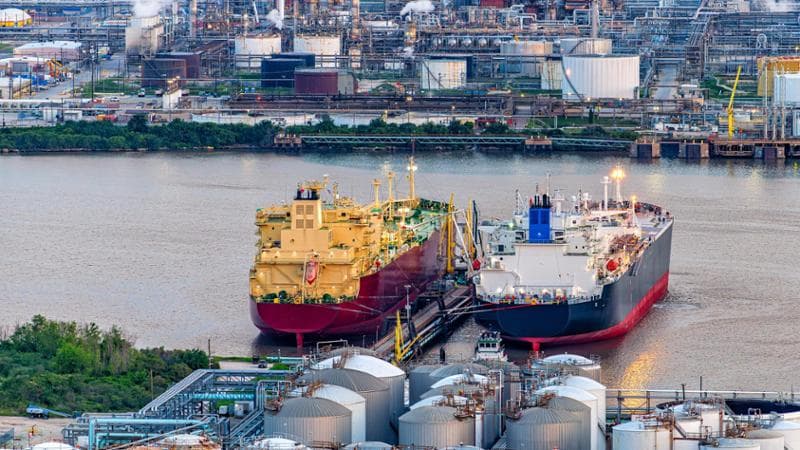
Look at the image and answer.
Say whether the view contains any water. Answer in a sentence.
Yes, some water is visible.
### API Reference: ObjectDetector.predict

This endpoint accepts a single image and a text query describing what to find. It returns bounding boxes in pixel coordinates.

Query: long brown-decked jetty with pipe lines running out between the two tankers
[354,277,481,366]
